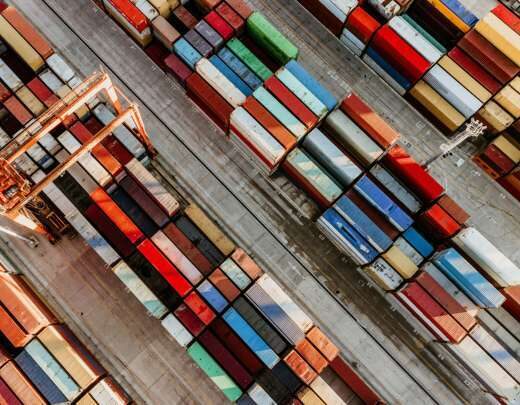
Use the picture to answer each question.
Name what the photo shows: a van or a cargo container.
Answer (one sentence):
Visible in the photo is a cargo container.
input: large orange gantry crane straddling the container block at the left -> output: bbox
[0,64,160,249]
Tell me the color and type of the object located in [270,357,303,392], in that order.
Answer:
black shipping container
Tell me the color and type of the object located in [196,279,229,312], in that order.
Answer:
blue shipping container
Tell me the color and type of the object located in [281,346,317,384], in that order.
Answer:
red shipping container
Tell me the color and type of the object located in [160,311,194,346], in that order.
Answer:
white shipping container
